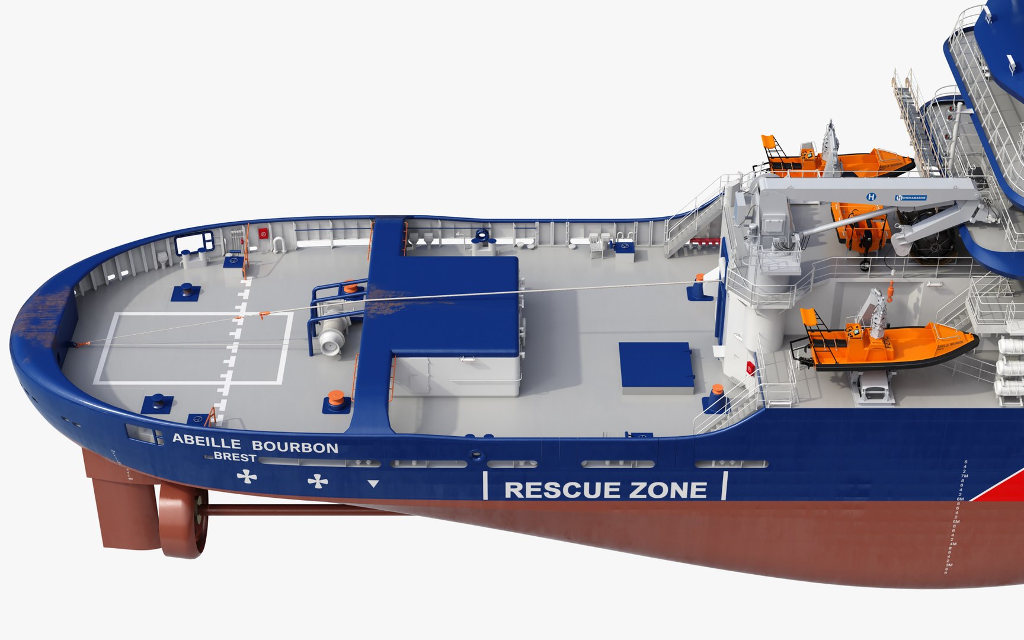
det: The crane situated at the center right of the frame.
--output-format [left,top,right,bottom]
[732,169,1003,355]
